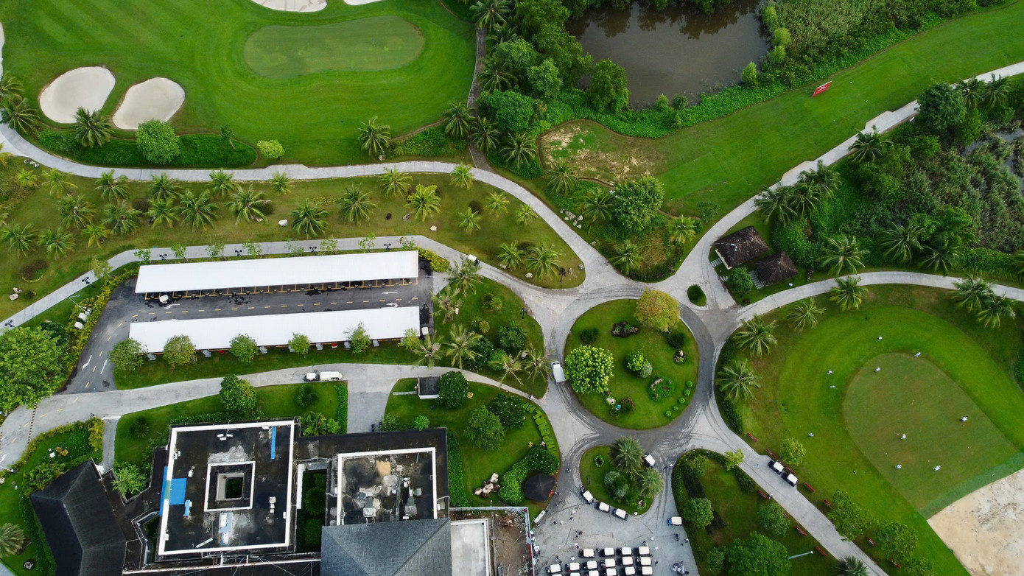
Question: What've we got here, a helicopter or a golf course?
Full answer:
I can see a golf course in this picture.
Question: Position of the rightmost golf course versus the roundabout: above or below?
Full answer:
The rightmost golf course is found above the roundabout in the photo.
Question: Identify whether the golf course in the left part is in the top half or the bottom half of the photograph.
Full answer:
Seen from above, the golf course in the left part lies in the top half of the view.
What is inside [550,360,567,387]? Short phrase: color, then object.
white vehicle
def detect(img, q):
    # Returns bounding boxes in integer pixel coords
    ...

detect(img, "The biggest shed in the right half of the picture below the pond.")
[712,225,770,271]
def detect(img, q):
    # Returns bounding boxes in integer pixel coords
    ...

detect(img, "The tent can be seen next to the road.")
[524,473,555,501]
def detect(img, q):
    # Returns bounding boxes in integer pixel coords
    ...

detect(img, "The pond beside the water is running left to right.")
[553,4,770,109]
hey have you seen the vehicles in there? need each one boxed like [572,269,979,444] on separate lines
[599,548,616,557]
[579,549,596,558]
[780,473,798,487]
[565,562,582,571]
[641,454,656,468]
[546,564,563,573]
[594,502,611,514]
[617,557,634,566]
[579,490,593,505]
[767,461,785,474]
[582,561,599,570]
[318,370,345,383]
[616,547,633,556]
[610,508,627,521]
[304,374,318,384]
[601,568,618,576]
[619,567,636,576]
[550,360,567,387]
[666,517,683,526]
[160,294,173,309]
[467,254,479,268]
[584,570,601,576]
[600,559,617,568]
[566,571,582,576]
[634,546,651,556]
[637,567,654,575]
[635,557,652,566]
[422,327,430,341]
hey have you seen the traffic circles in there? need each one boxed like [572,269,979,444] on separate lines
[550,288,712,474]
